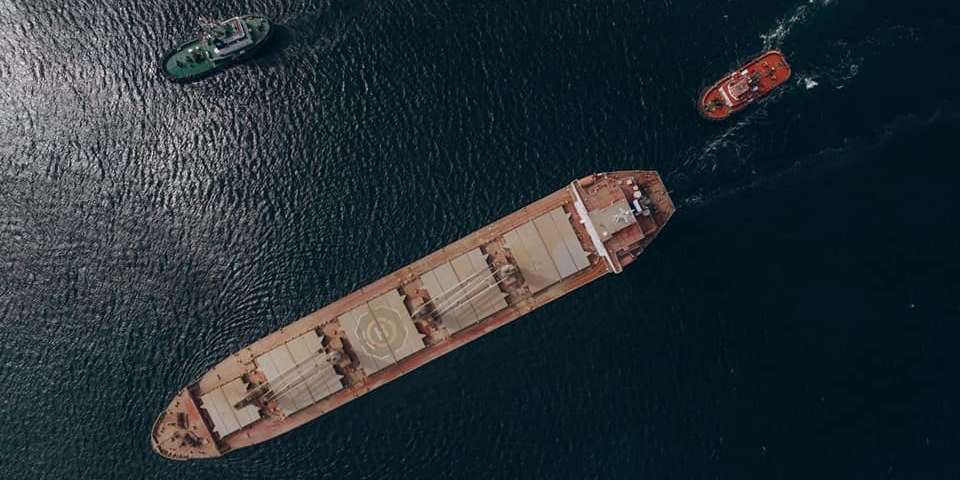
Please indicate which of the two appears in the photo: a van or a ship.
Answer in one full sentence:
This aerial view contains a ship.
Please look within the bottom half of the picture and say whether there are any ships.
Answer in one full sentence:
Yes, within the bottom half of the picture there is a ship.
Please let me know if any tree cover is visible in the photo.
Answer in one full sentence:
No, no tree cover is visible.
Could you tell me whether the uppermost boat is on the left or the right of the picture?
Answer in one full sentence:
The uppermost boat sits on the left side.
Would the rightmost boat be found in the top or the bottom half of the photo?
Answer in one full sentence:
Seen from above, the rightmost boat lies in the top half of the view.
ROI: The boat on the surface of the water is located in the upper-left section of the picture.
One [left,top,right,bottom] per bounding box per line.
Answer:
[160,16,271,79]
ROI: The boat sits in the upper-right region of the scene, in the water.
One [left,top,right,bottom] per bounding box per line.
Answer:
[700,53,791,114]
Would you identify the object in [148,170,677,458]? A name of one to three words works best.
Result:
ship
